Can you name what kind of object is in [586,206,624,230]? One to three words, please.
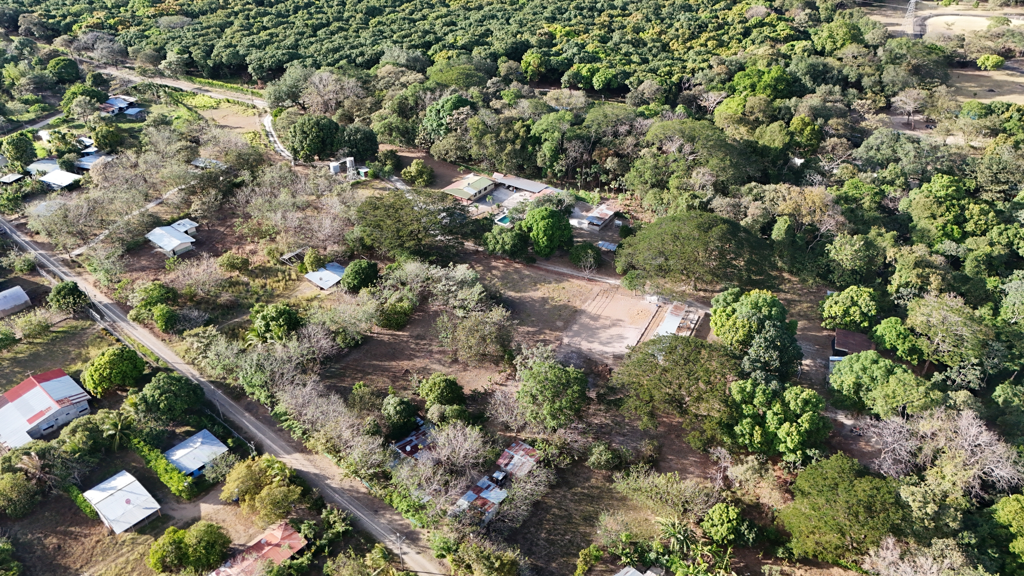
shed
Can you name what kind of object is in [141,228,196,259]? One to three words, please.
house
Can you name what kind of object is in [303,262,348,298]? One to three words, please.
shed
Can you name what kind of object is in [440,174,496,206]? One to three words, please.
building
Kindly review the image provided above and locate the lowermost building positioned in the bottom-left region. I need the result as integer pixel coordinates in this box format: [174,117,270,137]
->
[214,522,307,576]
